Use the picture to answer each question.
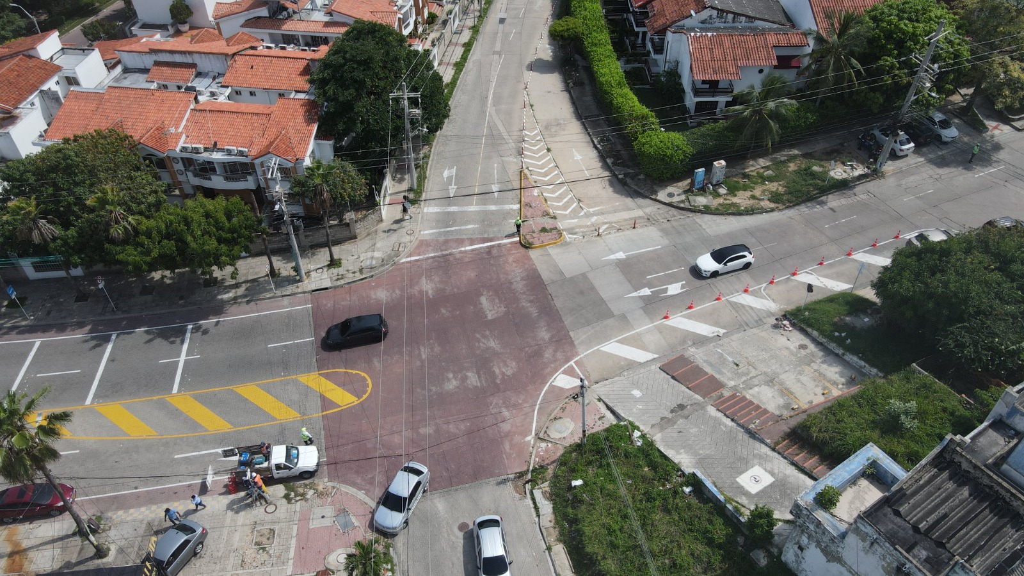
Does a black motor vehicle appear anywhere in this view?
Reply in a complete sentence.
Yes, there is a black motor vehicle in the image.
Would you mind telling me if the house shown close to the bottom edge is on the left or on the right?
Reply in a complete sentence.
The house shown close to the bottom edge sits on the right side.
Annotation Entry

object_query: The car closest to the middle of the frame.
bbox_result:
[325,310,391,350]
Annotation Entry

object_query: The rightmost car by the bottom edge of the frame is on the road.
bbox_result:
[472,512,516,576]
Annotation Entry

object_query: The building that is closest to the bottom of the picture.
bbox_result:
[773,385,1024,576]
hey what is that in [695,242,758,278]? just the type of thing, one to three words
car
